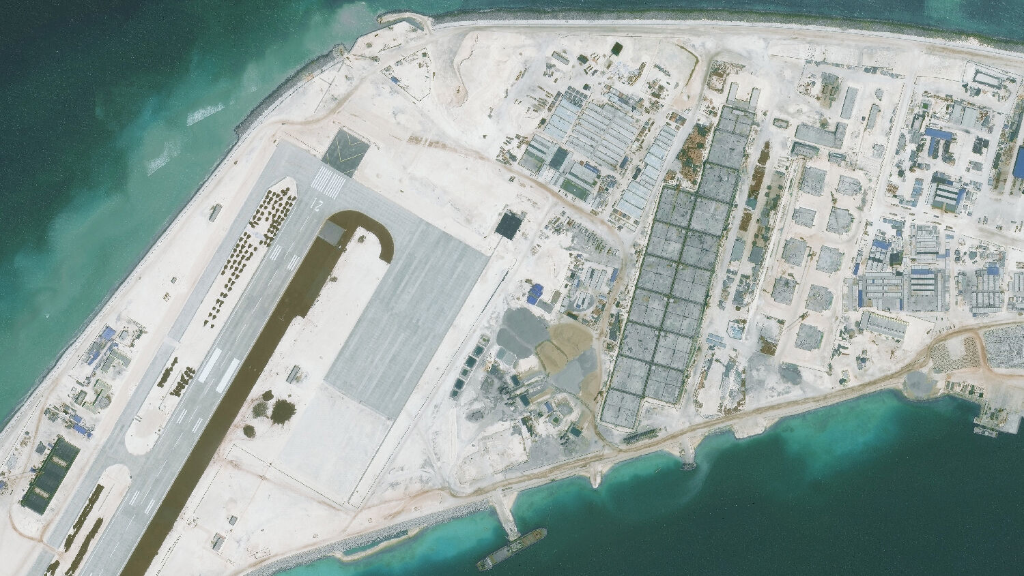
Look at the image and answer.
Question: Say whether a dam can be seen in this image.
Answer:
No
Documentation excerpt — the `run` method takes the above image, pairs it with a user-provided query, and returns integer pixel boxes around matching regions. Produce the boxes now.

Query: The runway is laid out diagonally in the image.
[77,161,369,576]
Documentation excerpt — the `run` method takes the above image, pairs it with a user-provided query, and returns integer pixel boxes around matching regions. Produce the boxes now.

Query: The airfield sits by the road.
[27,127,489,576]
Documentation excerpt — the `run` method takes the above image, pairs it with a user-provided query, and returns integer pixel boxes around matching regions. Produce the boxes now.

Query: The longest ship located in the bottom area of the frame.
[476,530,547,571]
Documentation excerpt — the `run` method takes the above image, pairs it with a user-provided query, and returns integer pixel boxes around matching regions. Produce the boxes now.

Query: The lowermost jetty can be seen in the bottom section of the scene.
[492,492,521,541]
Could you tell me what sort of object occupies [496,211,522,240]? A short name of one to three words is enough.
building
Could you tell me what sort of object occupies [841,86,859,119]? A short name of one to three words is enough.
building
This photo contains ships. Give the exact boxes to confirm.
[476,530,547,571]
[974,427,998,438]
